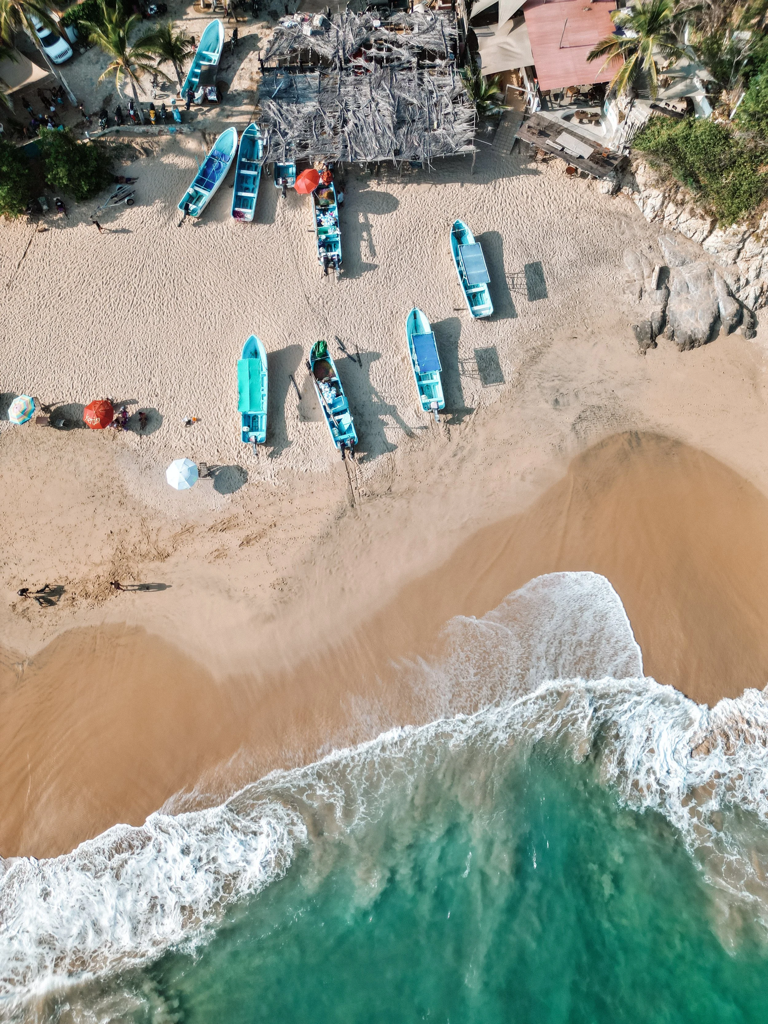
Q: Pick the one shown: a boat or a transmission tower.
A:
boat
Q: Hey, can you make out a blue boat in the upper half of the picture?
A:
Yes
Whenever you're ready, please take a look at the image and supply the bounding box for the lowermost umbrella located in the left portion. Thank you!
[165,456,200,490]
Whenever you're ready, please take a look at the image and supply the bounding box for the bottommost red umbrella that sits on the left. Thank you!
[82,398,114,429]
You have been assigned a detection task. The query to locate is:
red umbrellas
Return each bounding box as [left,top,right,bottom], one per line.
[82,398,114,429]
[294,171,320,193]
